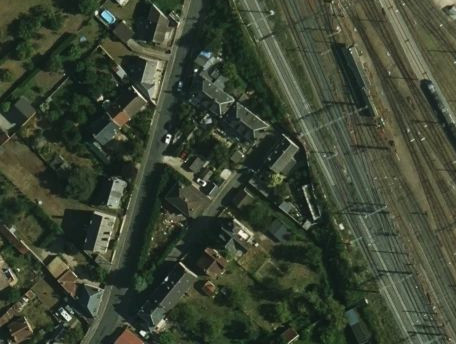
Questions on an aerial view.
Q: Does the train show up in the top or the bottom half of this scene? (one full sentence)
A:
The top half of the photo is where the train is.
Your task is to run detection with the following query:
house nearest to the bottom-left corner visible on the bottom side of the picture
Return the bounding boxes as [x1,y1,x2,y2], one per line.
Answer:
[2,313,33,344]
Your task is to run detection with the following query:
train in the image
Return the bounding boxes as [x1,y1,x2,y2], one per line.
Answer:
[427,81,456,134]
